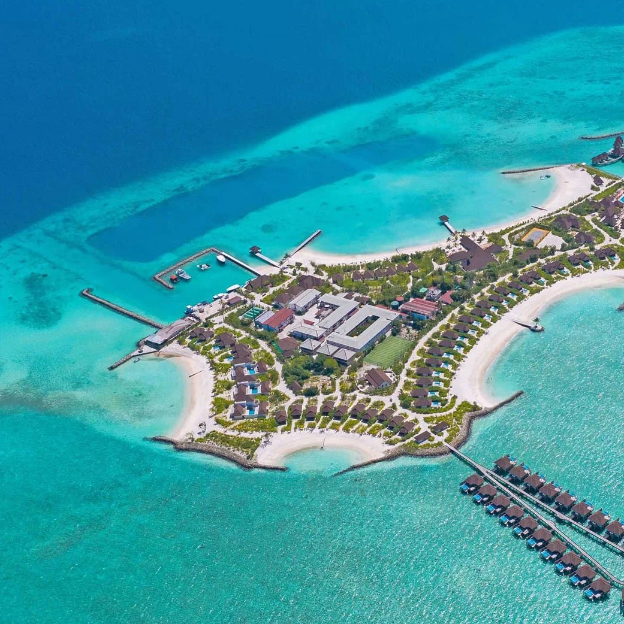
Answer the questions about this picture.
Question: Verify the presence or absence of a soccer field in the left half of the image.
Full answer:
No, no soccer field can be made out in the left half of the image.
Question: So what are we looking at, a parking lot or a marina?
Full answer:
What you see here is a marina.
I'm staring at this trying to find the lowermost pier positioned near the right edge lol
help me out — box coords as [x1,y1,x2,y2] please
[441,441,624,585]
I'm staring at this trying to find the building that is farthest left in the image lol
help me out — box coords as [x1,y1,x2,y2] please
[145,318,192,349]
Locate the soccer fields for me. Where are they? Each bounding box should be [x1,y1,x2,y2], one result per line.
[366,337,412,367]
